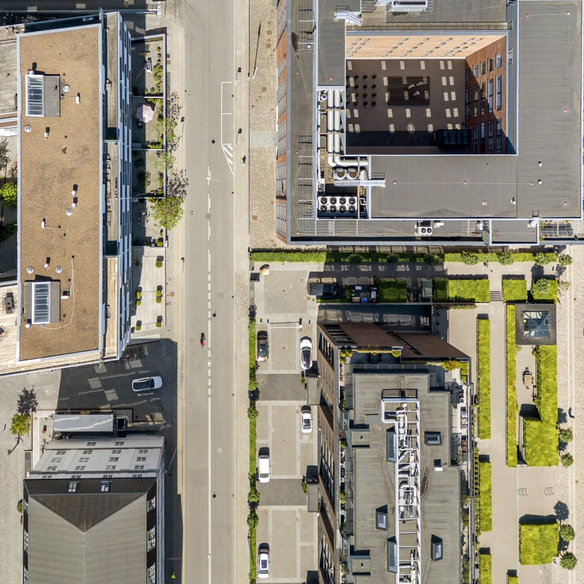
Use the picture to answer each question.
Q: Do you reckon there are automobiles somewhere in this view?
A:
Yes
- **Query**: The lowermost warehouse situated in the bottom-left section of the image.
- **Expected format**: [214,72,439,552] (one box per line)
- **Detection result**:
[23,436,166,584]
